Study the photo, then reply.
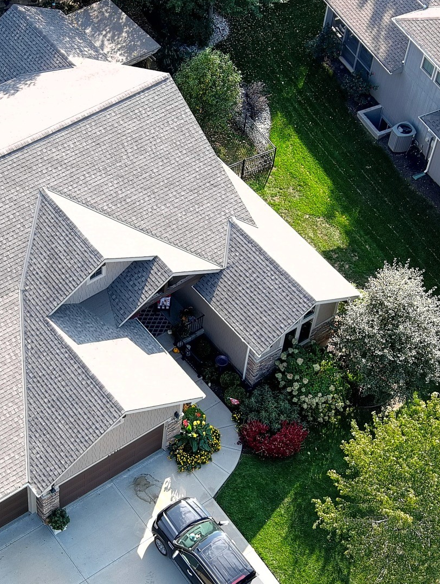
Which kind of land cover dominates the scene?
buildings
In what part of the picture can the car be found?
bottom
